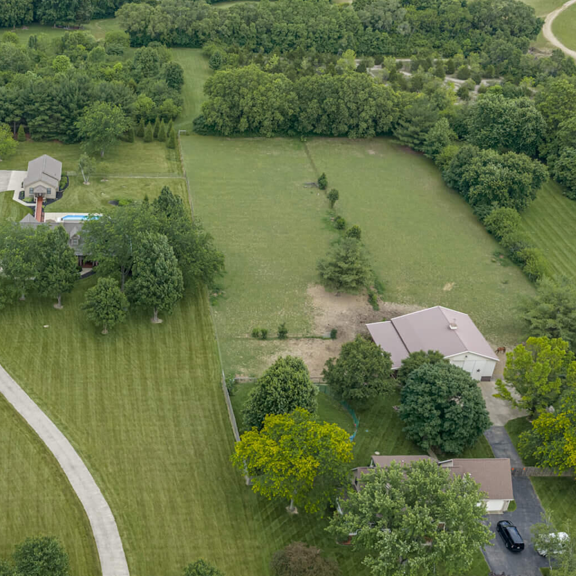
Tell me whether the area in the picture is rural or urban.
rural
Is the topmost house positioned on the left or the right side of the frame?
left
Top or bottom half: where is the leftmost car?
bottom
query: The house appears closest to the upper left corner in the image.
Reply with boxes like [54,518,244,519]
[21,153,63,202]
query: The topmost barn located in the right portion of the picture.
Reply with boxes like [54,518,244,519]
[361,305,500,381]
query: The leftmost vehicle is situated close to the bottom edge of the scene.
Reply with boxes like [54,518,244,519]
[497,523,528,551]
